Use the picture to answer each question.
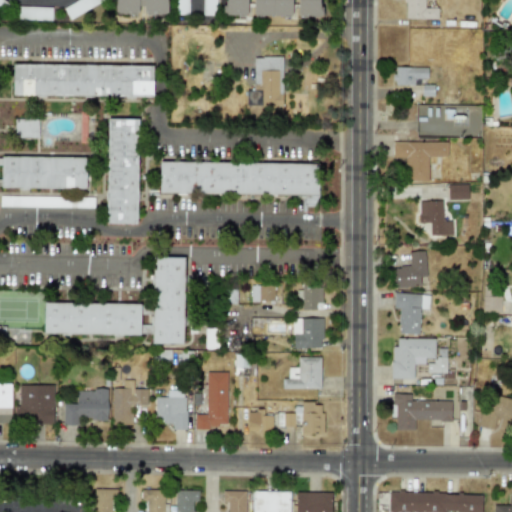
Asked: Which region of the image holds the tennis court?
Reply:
left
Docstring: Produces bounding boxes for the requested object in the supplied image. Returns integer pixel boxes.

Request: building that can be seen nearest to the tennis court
[45,302,143,336]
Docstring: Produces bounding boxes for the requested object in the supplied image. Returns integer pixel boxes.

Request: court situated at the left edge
[0,291,45,328]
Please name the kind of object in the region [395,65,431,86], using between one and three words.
house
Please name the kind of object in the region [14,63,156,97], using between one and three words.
building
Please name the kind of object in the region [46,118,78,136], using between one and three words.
swimming pool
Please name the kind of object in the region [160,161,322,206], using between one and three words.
building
